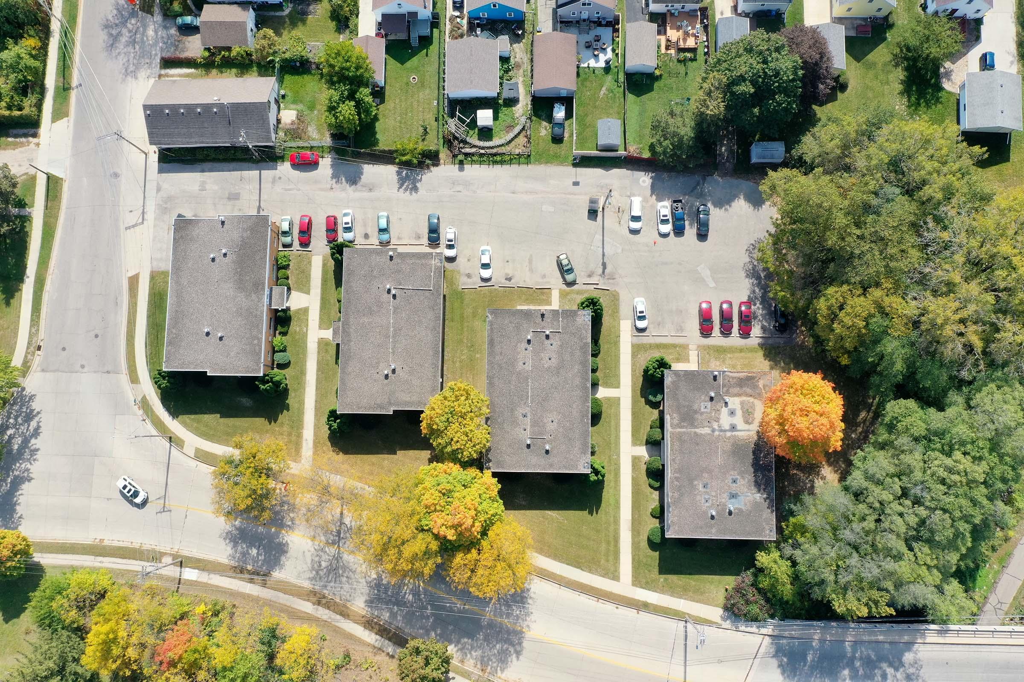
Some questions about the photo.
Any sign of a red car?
Yes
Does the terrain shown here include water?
No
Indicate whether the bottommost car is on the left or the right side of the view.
left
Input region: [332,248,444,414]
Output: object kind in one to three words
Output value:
building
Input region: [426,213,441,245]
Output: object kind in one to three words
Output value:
car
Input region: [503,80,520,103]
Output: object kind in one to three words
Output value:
shed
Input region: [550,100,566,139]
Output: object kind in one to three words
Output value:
vehicle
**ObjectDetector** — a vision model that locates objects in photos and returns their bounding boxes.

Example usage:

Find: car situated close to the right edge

[979,47,997,70]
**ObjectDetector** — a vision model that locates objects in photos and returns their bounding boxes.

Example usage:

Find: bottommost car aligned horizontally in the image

[288,150,321,166]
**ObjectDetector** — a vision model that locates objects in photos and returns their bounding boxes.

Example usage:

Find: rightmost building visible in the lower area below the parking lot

[660,370,776,540]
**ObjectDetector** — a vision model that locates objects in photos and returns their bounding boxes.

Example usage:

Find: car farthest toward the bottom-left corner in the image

[114,476,148,505]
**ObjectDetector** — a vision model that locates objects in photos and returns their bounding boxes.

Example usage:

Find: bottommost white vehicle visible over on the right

[633,297,649,331]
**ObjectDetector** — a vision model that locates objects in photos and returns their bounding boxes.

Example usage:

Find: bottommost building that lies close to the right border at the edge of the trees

[956,69,1023,136]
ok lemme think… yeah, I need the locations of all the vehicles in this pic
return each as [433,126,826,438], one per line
[296,214,313,247]
[656,202,672,235]
[288,150,321,166]
[695,203,711,236]
[718,300,735,335]
[979,47,997,70]
[452,0,464,7]
[628,196,644,232]
[698,300,715,335]
[633,297,649,331]
[114,476,148,505]
[340,210,357,243]
[671,197,688,233]
[550,100,566,139]
[556,251,577,285]
[426,213,441,245]
[375,211,391,244]
[737,301,754,336]
[323,214,339,243]
[478,246,493,280]
[773,301,790,335]
[279,215,296,247]
[443,223,458,259]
